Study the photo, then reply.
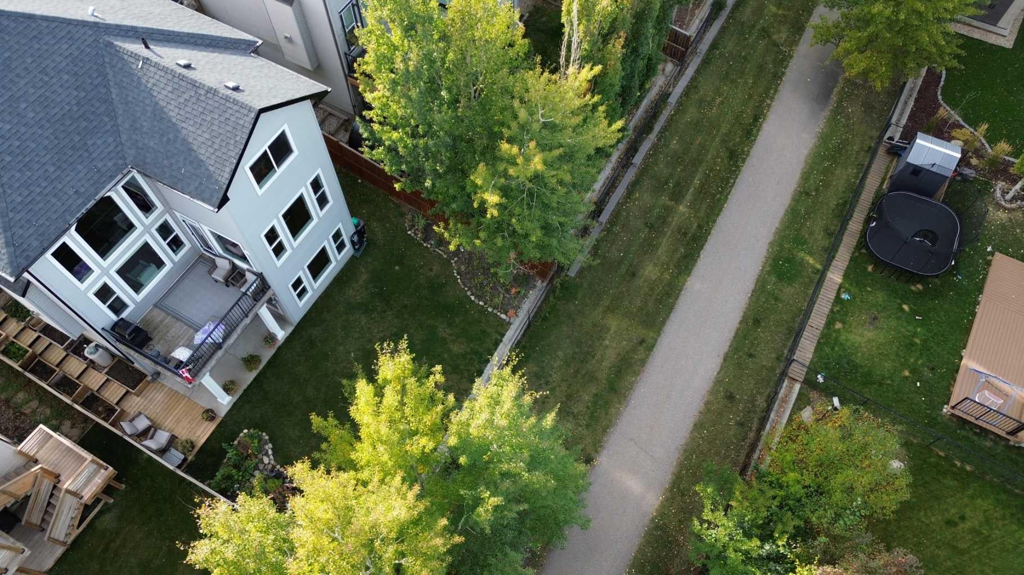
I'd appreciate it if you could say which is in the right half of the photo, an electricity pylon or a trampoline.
trampoline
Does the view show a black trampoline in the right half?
Yes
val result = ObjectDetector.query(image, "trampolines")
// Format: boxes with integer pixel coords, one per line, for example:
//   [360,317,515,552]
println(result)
[854,170,988,292]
